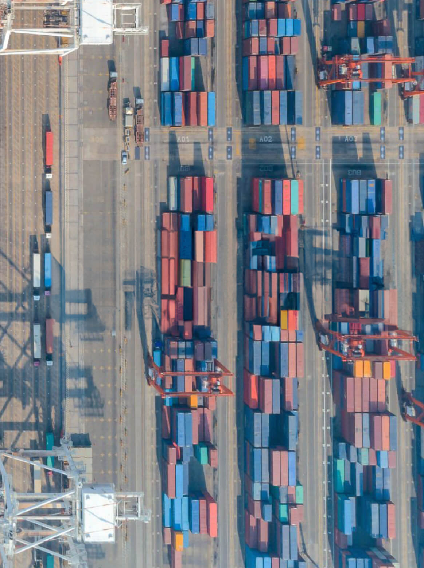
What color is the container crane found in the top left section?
white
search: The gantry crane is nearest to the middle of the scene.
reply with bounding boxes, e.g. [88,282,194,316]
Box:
[149,352,237,398]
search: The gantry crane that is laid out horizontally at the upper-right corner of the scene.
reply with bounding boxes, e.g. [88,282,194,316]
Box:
[319,53,415,90]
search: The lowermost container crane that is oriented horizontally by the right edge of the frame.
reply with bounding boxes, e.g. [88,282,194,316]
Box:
[320,317,418,363]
